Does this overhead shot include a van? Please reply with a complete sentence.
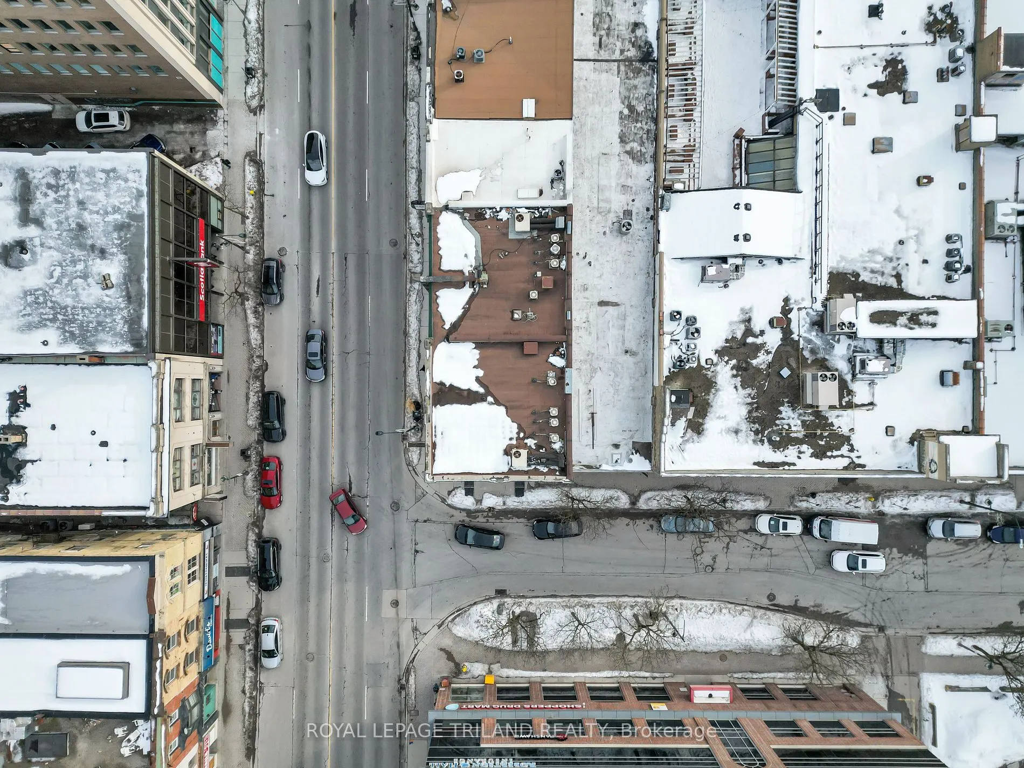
Yes, you can see a van in this photo.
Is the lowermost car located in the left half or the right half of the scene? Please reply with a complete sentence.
The lowermost car sits on the left side.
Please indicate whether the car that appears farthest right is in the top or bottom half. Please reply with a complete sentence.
The bottom half of the photo is where the car that appears farthest right is.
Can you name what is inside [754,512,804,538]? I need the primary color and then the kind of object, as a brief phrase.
white car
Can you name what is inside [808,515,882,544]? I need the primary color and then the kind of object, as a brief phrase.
white van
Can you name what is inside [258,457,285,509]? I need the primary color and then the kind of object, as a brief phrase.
red car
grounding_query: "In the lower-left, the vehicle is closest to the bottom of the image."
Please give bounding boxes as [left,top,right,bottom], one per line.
[258,617,284,668]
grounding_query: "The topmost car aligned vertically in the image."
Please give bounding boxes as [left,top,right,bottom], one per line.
[303,131,330,187]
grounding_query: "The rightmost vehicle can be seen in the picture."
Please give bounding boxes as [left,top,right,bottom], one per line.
[985,522,1024,547]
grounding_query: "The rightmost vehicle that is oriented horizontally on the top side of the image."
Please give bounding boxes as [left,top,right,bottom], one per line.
[124,133,170,155]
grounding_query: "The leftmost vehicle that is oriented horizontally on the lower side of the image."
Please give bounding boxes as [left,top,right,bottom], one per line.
[454,523,505,550]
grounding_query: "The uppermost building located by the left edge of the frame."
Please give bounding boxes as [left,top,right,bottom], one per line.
[0,0,223,126]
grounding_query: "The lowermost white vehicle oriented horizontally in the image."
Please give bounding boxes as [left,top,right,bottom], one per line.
[828,548,886,575]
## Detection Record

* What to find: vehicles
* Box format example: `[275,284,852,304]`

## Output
[255,537,283,591]
[258,457,285,509]
[303,131,330,187]
[303,330,328,383]
[660,512,715,536]
[924,516,983,542]
[454,523,505,550]
[330,485,367,537]
[532,517,583,542]
[124,133,170,155]
[259,257,286,306]
[985,522,1024,547]
[828,548,886,575]
[808,515,882,544]
[258,617,284,668]
[259,391,287,442]
[77,107,133,135]
[754,512,804,538]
